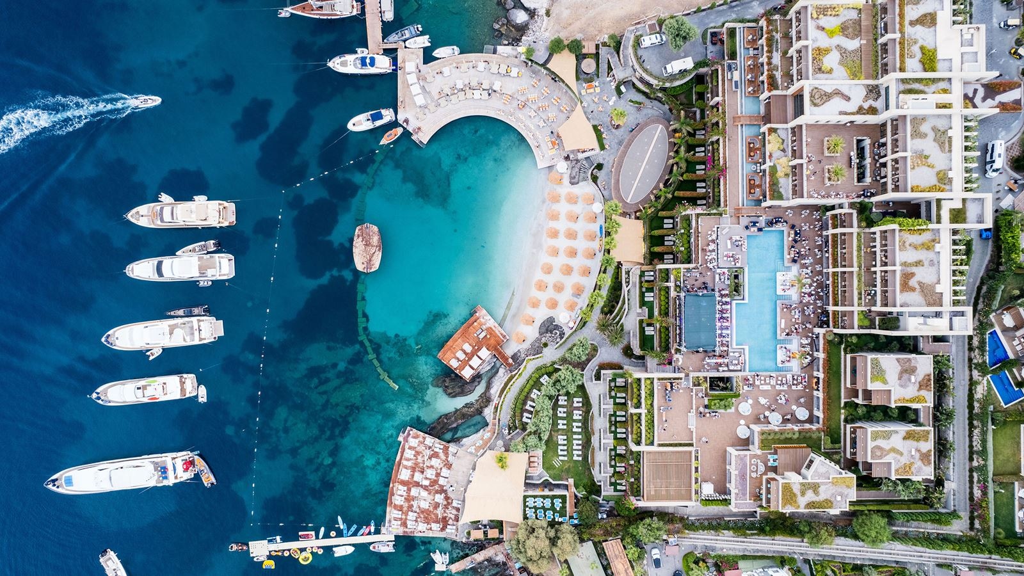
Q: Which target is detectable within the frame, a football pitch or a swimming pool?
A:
swimming pool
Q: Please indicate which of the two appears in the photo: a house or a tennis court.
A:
house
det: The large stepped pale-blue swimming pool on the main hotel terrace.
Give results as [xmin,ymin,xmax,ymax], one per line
[714,220,800,375]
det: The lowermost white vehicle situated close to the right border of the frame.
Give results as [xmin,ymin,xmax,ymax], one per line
[987,138,1011,178]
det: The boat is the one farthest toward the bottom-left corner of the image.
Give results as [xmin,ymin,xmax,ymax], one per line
[97,546,125,576]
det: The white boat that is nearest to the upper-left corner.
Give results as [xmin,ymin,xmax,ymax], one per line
[126,96,162,108]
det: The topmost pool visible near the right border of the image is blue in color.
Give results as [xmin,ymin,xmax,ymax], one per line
[984,327,1007,370]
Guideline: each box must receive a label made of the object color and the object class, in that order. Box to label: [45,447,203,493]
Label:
white boat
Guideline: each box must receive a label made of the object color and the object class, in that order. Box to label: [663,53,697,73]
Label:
white vehicle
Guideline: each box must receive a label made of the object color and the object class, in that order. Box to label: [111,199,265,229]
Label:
white boat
